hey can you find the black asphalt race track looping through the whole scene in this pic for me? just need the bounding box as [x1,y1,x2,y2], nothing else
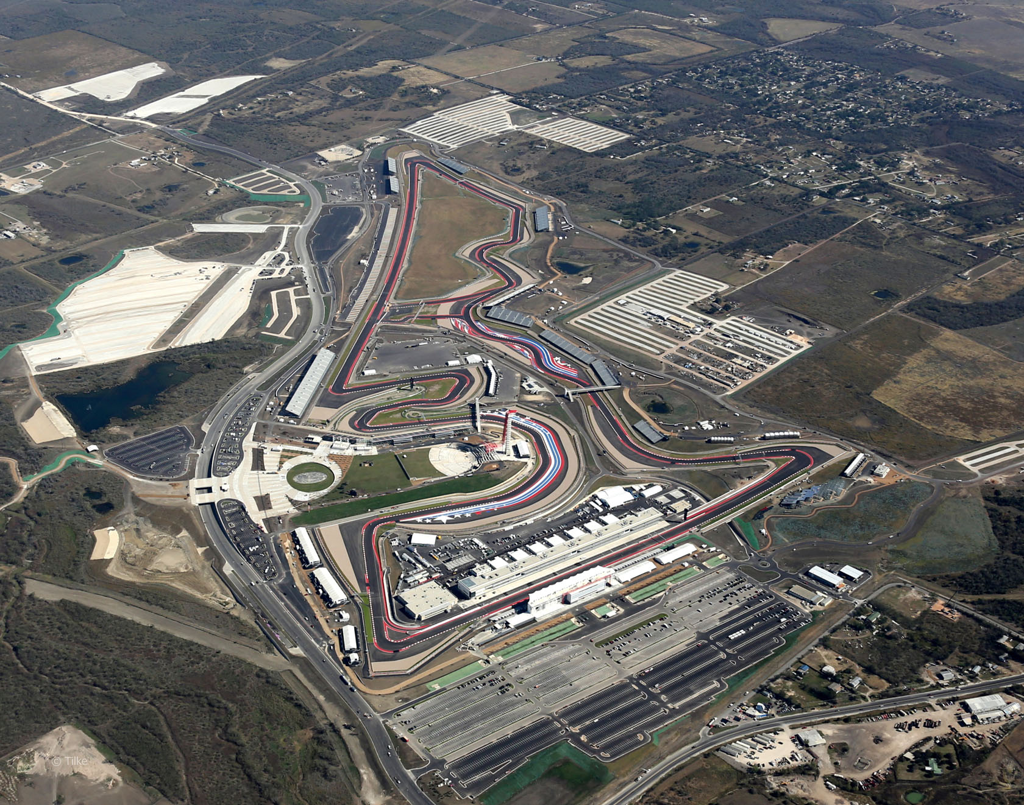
[334,160,809,650]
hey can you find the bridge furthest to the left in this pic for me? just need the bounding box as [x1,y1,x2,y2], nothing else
[185,477,218,509]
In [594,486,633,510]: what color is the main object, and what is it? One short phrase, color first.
white tent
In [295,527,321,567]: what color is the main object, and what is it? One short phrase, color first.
white tent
